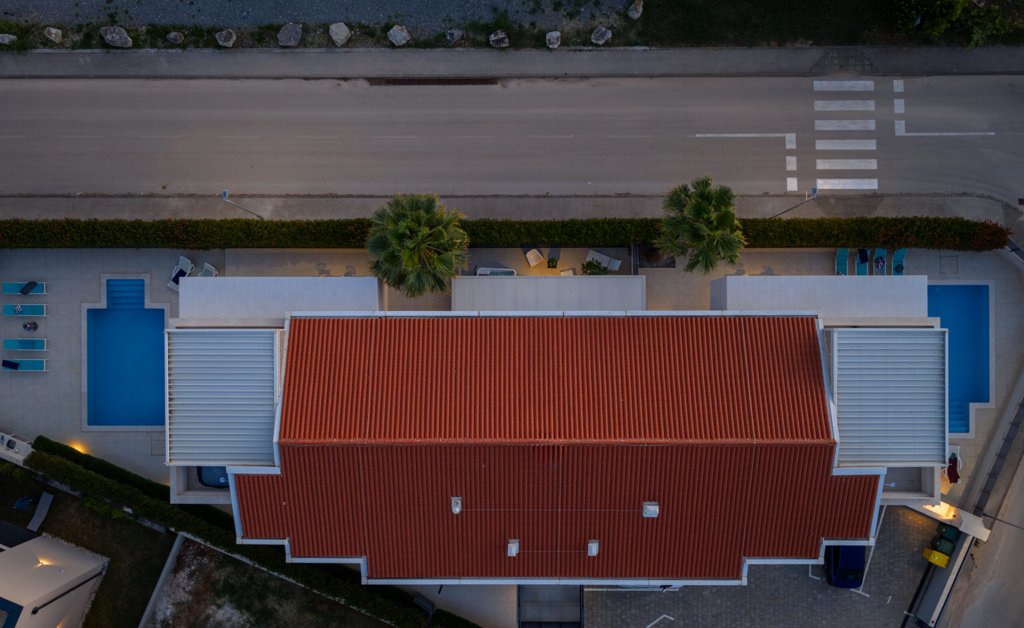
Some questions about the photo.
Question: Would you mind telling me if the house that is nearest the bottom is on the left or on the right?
left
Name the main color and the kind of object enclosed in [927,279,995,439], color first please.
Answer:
blue swimming pool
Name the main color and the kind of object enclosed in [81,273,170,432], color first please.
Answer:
blue swimming pool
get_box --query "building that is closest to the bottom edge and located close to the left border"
[0,523,102,628]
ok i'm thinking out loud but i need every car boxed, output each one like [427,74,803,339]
[603,585,683,595]
[821,538,864,589]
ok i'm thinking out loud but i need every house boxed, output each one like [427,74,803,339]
[225,311,889,586]
[0,523,102,628]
